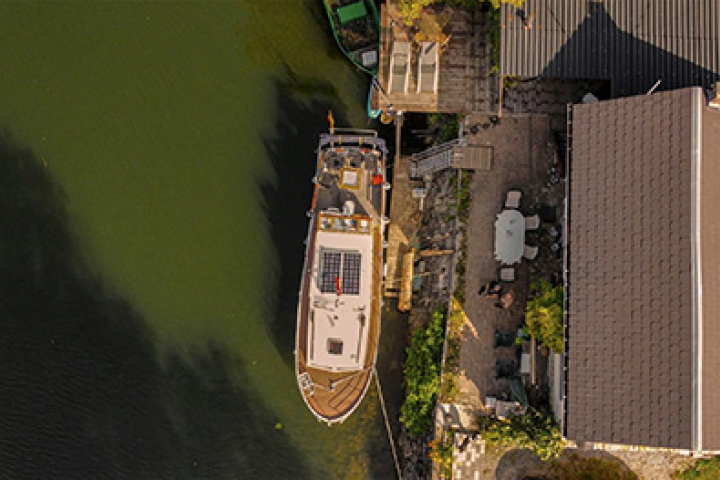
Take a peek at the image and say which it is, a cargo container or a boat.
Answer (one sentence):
I can see a boat in this picture.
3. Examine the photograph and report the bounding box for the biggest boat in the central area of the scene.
[294,110,388,426]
